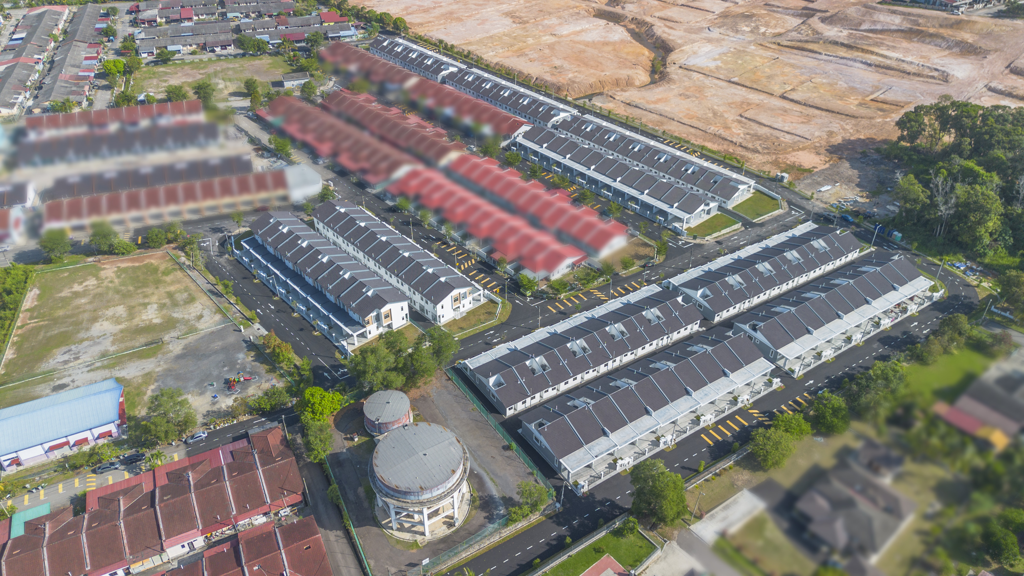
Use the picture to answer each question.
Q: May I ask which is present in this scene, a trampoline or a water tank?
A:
water tank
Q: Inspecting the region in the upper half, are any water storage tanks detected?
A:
No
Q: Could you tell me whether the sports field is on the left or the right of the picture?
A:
left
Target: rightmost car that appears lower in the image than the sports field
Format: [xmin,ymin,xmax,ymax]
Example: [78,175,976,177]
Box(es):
[185,432,207,445]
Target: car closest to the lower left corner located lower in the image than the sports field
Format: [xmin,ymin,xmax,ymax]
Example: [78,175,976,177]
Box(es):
[95,462,119,475]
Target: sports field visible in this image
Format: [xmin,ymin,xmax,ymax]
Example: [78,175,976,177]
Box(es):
[0,251,233,386]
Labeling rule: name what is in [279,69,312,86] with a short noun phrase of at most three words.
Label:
building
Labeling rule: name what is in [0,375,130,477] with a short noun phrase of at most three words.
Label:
building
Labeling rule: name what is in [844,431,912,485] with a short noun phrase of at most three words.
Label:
house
